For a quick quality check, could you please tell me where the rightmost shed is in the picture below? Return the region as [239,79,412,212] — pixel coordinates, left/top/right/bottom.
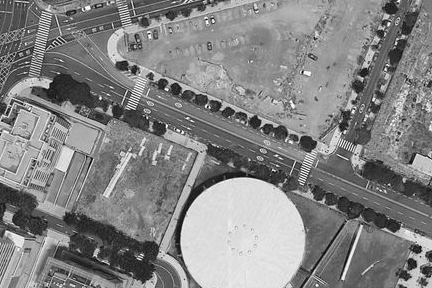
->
[410,153,432,176]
